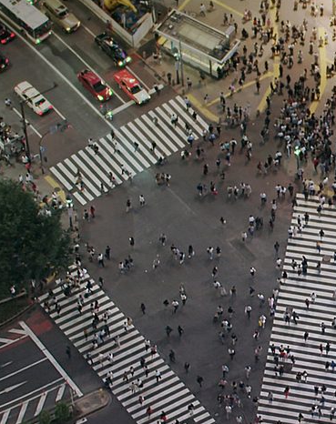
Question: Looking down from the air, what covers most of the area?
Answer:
paved ground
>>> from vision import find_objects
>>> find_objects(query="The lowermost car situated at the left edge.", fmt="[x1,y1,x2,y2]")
[15,80,52,109]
